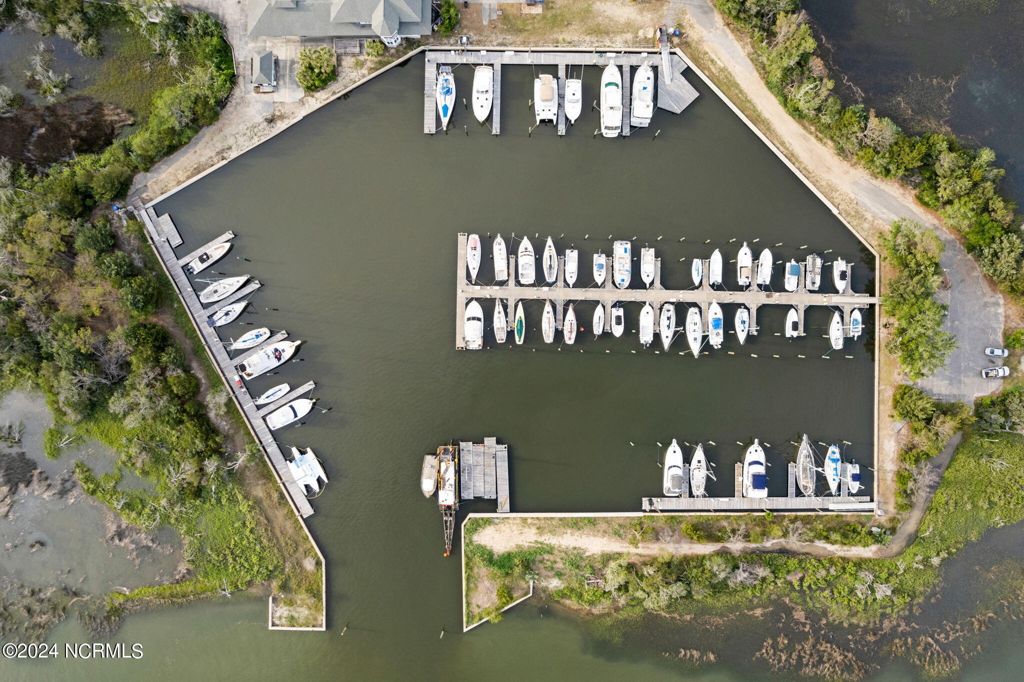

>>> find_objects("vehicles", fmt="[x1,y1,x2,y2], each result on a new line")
[983,347,1008,358]
[979,366,1010,378]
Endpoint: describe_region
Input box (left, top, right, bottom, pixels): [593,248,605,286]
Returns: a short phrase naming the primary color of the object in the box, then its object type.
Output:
white boat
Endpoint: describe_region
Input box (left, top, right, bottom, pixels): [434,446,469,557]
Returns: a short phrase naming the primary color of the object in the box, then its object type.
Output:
white ship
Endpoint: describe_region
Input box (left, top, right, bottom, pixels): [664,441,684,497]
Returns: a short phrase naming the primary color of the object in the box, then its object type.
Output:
white boat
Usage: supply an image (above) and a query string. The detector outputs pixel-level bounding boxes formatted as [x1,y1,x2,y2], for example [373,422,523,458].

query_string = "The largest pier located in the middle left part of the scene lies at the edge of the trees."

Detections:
[148,206,316,518]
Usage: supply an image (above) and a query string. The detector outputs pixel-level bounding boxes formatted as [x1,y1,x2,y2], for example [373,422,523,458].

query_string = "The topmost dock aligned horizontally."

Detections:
[424,52,699,136]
